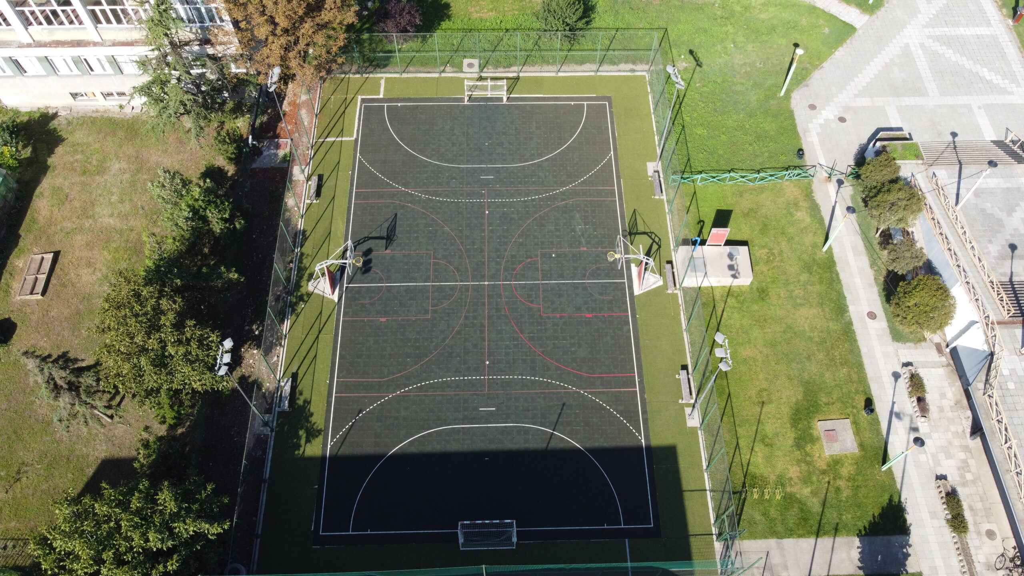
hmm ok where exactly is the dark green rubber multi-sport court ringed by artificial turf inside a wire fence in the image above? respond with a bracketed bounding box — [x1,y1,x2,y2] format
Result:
[248,71,726,576]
